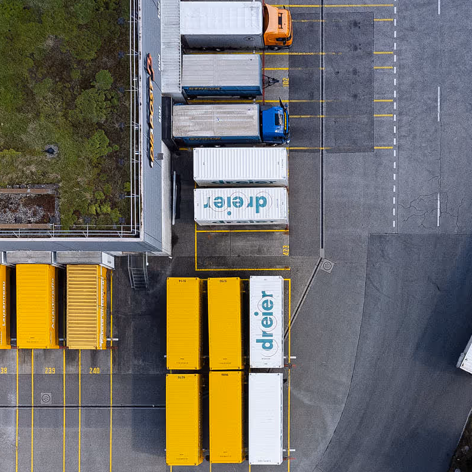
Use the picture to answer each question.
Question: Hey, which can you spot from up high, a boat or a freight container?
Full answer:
The image shows a freight container.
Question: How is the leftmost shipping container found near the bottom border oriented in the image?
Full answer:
The leftmost shipping container found near the bottom border has been laid out vertically relative to the frame.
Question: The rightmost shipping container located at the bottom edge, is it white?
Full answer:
Yes, white is the color of the rightmost shipping container located at the bottom edge.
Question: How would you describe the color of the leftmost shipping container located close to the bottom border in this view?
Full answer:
In this view, the leftmost shipping container located close to the bottom border is yellow.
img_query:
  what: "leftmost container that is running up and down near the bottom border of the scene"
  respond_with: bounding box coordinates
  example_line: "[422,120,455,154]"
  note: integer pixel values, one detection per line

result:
[166,373,206,465]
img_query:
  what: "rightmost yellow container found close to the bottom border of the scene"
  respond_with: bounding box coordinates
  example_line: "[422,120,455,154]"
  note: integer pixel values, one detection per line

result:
[210,371,248,463]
